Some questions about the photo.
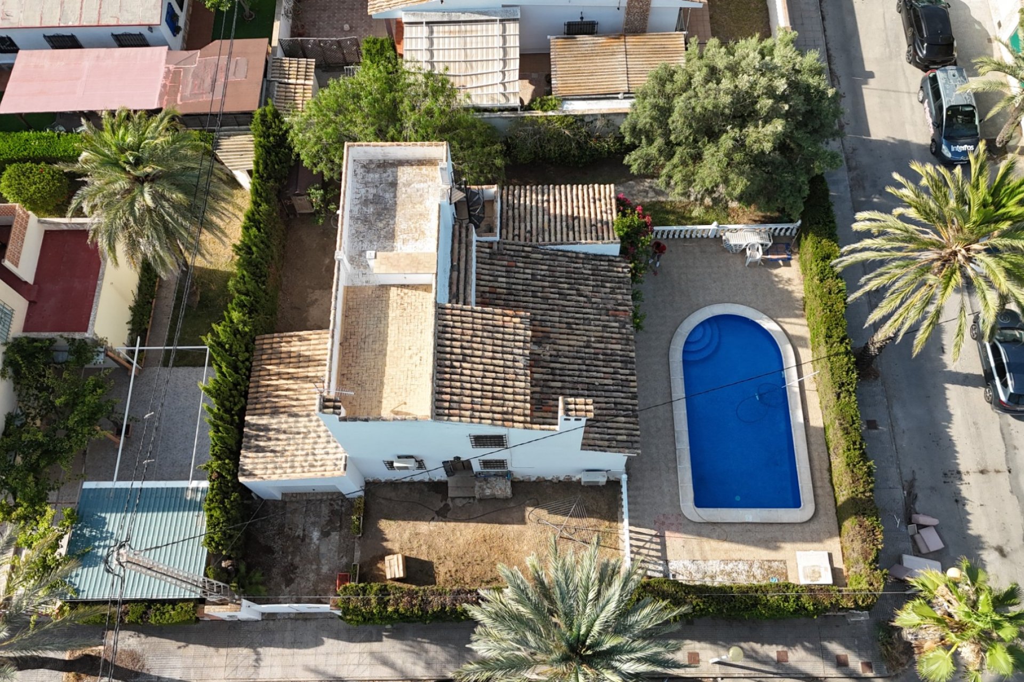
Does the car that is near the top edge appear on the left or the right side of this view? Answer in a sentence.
It is on the right.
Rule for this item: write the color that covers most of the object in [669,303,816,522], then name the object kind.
blue swimming pool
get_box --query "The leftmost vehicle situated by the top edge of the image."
[895,0,954,67]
